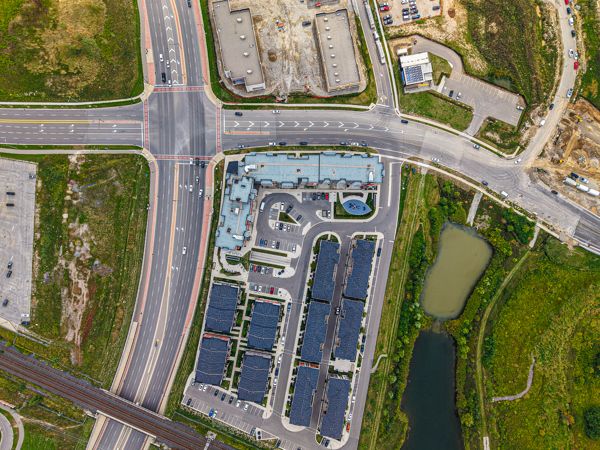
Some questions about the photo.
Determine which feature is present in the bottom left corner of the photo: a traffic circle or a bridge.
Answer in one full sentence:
Looking in the bottom left corner of the photo, you will find a bridge.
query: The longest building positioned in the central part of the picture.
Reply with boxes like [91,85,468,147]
[216,152,384,250]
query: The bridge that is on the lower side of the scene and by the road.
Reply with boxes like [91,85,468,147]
[89,383,173,442]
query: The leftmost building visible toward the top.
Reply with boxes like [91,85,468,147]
[213,0,265,90]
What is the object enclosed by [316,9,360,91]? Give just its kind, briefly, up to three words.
building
